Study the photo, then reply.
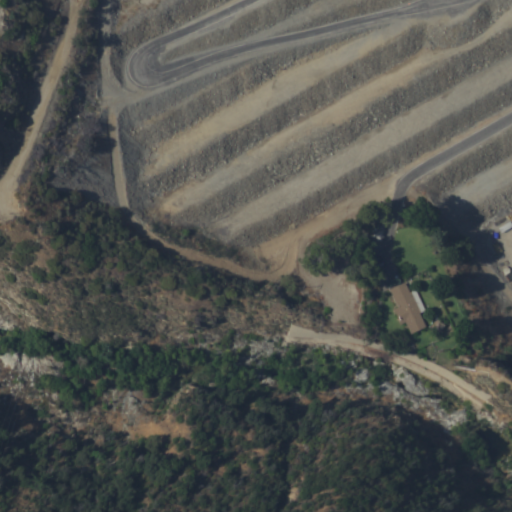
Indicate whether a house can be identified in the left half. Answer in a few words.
No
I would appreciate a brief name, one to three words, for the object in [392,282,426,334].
house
